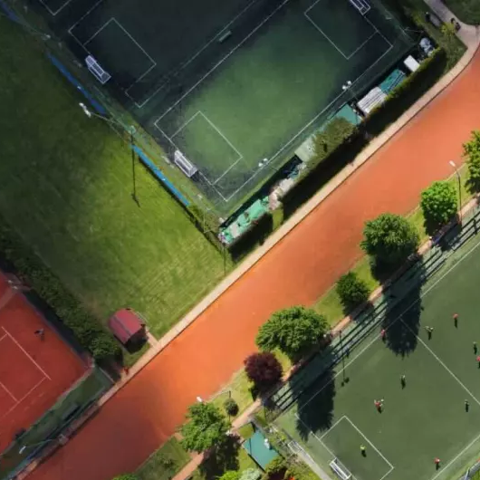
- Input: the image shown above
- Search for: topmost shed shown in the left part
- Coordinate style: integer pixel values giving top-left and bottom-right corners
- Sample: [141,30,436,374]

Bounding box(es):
[109,308,154,345]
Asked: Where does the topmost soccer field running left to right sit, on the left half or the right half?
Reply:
left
